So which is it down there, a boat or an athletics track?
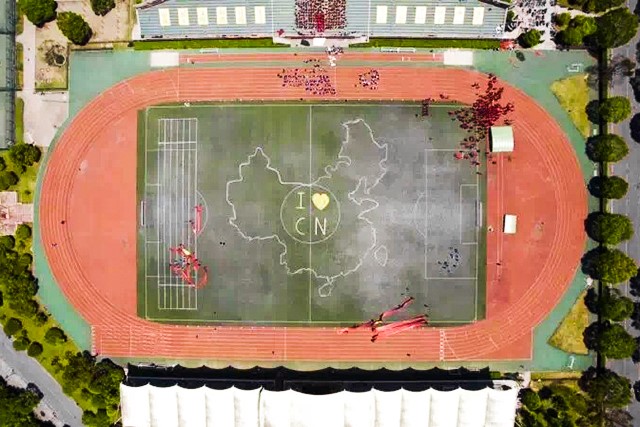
athletics track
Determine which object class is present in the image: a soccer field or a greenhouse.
soccer field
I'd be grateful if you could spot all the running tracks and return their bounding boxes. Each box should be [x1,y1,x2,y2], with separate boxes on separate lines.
[39,68,586,360]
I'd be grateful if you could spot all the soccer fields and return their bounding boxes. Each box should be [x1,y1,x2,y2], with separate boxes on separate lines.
[138,98,487,328]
